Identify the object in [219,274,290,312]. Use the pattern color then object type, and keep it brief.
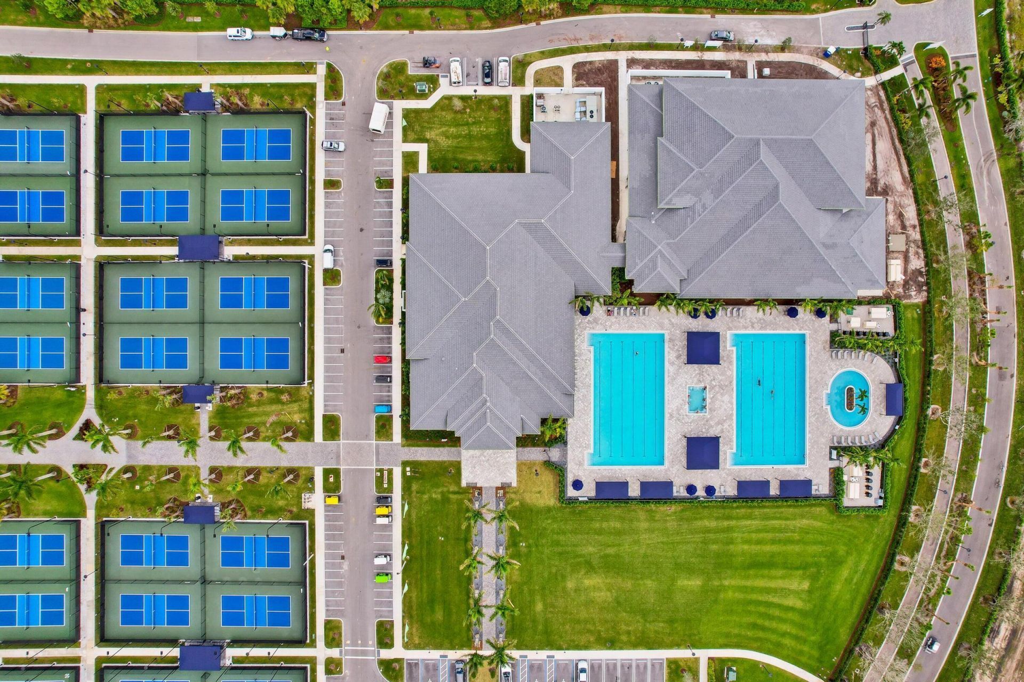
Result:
blue sports court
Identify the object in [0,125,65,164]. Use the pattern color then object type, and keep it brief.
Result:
blue sports court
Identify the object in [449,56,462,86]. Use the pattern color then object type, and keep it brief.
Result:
white vehicle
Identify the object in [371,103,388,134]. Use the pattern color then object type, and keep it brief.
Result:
white vehicle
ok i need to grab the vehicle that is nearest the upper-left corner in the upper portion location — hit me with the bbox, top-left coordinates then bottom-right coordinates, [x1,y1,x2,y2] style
[226,26,253,40]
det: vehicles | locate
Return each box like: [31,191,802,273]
[454,661,465,682]
[371,103,388,134]
[413,56,438,67]
[324,496,341,504]
[710,30,734,41]
[375,376,392,383]
[481,60,493,85]
[922,638,943,654]
[375,356,391,363]
[376,259,393,267]
[502,663,511,682]
[226,26,253,40]
[375,573,392,583]
[375,405,391,413]
[293,27,326,42]
[822,44,838,59]
[449,56,462,86]
[375,505,392,514]
[376,496,392,505]
[497,56,509,86]
[374,554,390,564]
[577,660,588,682]
[375,515,392,524]
[321,245,334,269]
[322,139,345,151]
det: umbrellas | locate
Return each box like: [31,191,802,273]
[685,484,697,495]
[571,479,583,491]
[786,306,798,317]
[814,306,826,318]
[579,304,590,315]
[704,305,716,316]
[688,304,700,316]
[704,485,716,496]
